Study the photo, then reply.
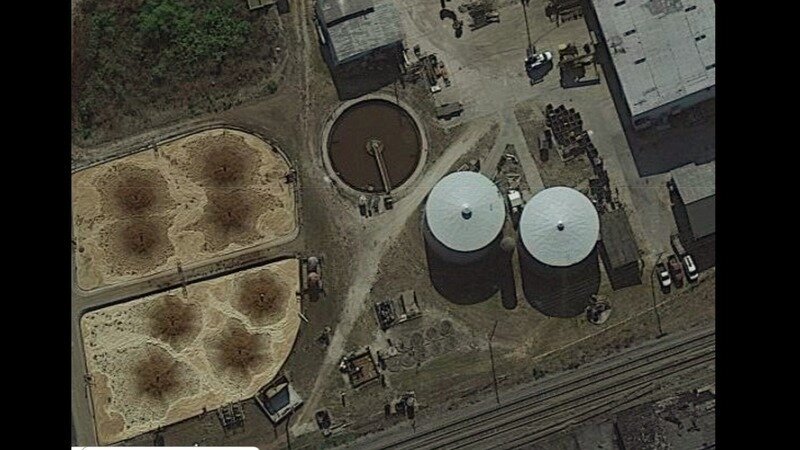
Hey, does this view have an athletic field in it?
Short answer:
No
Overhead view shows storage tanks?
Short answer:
Yes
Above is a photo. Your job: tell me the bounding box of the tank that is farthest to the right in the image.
[517,187,601,278]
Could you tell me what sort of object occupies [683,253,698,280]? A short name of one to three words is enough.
car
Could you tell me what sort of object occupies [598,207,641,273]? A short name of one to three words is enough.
shed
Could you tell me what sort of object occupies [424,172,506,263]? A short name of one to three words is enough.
storage tank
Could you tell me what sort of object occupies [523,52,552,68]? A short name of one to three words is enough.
vehicle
